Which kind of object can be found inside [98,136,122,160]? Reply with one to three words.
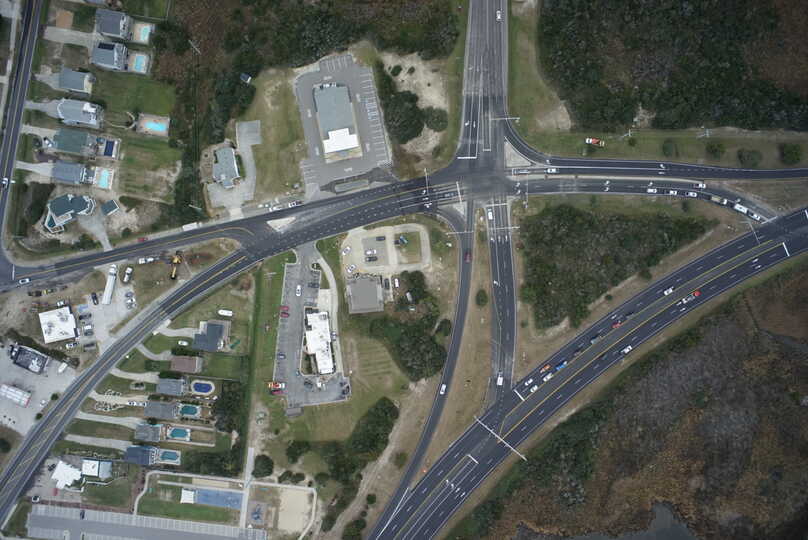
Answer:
swimming pool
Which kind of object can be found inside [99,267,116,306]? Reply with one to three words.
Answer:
vehicle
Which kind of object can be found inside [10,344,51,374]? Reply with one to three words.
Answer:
building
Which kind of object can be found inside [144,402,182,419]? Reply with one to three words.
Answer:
house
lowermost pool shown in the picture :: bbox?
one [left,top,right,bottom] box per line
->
[159,448,181,465]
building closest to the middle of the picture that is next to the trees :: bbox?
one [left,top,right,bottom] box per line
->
[349,275,383,313]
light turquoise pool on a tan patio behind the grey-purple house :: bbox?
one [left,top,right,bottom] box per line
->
[132,21,155,44]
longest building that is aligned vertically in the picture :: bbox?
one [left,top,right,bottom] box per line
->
[305,307,335,378]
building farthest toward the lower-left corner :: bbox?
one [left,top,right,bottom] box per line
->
[51,459,85,489]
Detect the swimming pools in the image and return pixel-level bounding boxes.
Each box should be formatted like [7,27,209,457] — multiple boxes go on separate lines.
[180,403,201,418]
[94,167,114,189]
[166,426,192,442]
[159,448,181,465]
[132,21,155,44]
[127,51,150,73]
[136,112,171,137]
[191,380,215,396]
[98,136,122,160]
